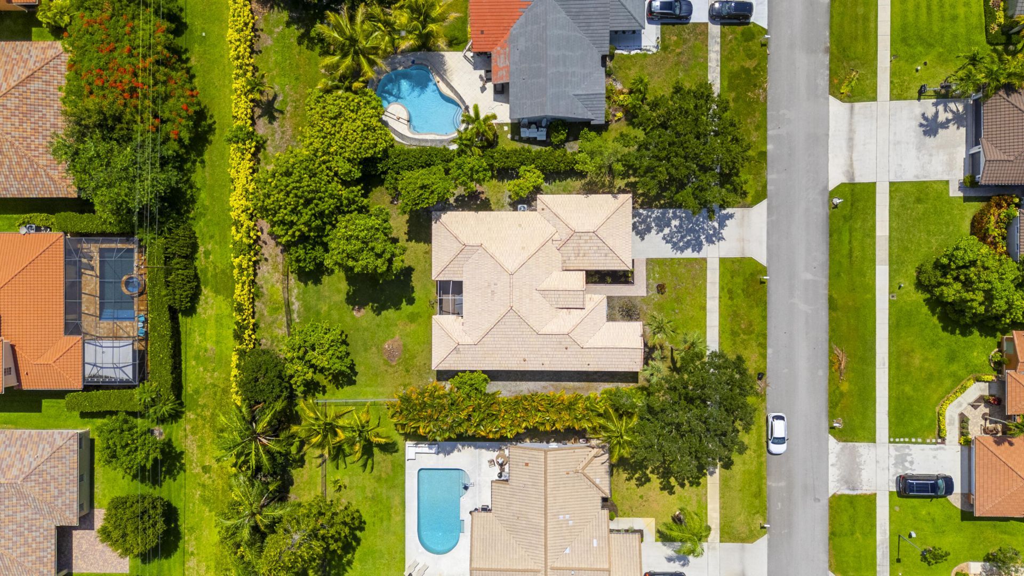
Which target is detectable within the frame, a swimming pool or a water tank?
swimming pool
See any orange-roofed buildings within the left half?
Yes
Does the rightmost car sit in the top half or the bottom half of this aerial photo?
bottom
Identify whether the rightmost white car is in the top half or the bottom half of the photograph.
bottom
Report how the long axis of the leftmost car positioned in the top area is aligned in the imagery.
from side to side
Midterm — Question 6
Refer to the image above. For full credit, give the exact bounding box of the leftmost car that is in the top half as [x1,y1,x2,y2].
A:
[647,1,693,22]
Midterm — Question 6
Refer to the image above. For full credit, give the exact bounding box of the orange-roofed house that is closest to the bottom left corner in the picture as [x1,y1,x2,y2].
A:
[0,232,92,394]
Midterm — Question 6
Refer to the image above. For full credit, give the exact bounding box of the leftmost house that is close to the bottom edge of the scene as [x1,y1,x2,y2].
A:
[0,429,89,576]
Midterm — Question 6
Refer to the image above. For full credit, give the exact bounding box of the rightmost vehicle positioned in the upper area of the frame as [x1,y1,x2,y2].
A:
[709,0,754,23]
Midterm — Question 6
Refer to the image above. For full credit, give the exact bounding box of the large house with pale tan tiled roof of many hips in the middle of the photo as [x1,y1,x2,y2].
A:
[432,194,644,370]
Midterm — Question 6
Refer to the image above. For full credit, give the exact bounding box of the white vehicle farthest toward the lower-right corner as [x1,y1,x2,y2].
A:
[767,413,790,455]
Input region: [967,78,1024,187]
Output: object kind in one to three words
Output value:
house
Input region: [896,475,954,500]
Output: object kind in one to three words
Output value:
car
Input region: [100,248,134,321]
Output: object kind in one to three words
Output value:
swimming pool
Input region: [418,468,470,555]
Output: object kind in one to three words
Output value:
swimming pool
